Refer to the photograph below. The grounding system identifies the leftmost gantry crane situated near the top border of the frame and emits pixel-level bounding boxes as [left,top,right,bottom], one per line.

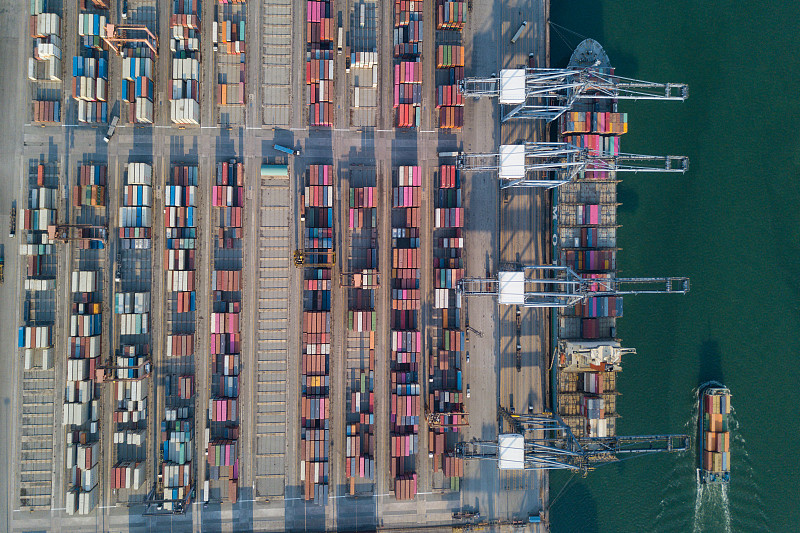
[102,24,161,59]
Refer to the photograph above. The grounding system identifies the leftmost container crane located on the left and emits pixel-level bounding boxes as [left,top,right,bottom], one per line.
[46,223,110,245]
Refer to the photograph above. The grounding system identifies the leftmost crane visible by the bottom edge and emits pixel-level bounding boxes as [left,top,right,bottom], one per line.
[141,484,199,517]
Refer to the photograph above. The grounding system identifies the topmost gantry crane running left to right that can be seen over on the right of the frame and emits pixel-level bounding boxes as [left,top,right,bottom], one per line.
[461,67,691,140]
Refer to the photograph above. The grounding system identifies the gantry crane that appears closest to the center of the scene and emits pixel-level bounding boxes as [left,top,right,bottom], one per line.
[337,270,381,290]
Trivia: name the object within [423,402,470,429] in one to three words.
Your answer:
container crane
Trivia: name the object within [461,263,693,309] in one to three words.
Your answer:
container crane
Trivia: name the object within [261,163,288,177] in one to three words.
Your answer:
shed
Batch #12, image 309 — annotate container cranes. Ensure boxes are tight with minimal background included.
[102,24,161,59]
[94,359,155,383]
[461,140,691,202]
[46,223,110,245]
[461,399,695,467]
[141,484,199,517]
[337,270,381,290]
[461,263,693,309]
[291,249,338,270]
[461,67,691,140]
[423,402,470,429]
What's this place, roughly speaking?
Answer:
port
